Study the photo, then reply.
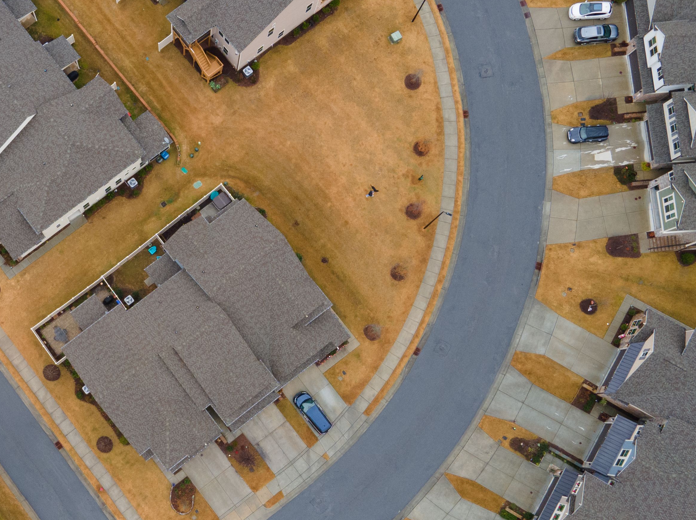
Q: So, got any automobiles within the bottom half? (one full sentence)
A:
Yes, looking within the bottom half, one can make out an automobile.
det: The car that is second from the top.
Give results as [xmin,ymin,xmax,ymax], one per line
[571,23,619,47]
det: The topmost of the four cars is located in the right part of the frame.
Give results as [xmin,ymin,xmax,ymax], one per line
[566,0,613,23]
